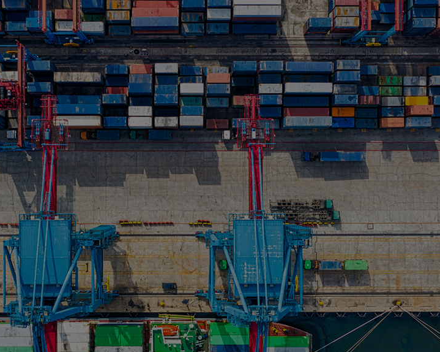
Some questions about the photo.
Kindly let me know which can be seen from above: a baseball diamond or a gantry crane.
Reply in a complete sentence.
The image shows a gantry crane.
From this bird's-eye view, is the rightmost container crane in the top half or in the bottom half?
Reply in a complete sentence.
You can find the rightmost container crane in the top half.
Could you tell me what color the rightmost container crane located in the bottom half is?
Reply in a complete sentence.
From above, the rightmost container crane located in the bottom half appears blue.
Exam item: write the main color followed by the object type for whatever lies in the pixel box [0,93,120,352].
blue container crane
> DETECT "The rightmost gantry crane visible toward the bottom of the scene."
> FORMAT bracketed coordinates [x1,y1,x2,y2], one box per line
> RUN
[196,93,319,352]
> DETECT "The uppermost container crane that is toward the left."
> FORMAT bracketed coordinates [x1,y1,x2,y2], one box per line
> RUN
[37,0,97,48]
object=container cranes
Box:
[0,37,48,153]
[196,93,319,352]
[37,0,97,48]
[337,0,405,48]
[0,93,120,352]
